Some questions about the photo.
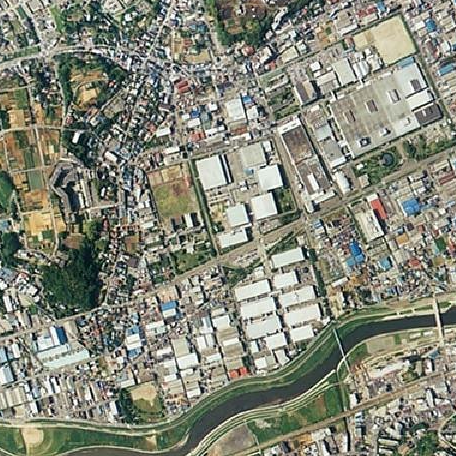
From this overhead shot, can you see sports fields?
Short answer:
Yes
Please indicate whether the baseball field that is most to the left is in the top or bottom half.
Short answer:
bottom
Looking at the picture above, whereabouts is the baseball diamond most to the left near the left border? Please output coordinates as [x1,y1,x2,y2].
[13,427,56,456]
